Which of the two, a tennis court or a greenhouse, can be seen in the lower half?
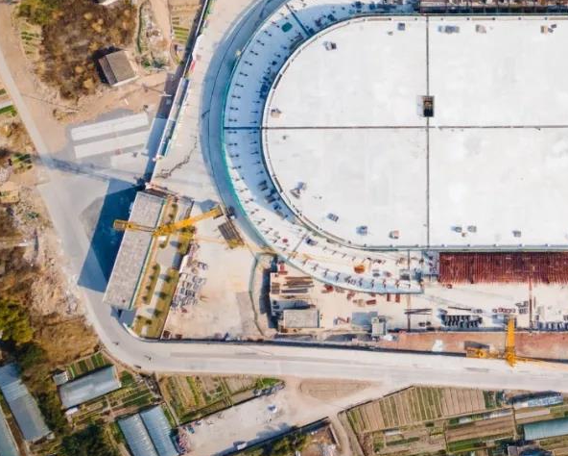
greenhouse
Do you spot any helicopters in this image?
No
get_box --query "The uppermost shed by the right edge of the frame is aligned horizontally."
[514,389,563,408]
